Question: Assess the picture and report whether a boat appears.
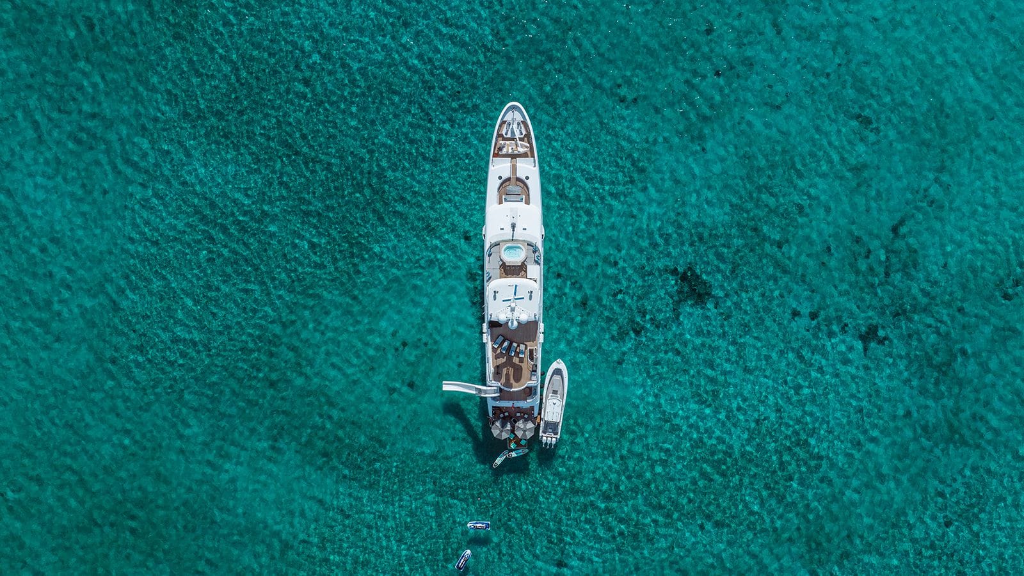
Yes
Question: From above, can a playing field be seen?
No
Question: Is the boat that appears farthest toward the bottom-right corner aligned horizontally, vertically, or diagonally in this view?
vertically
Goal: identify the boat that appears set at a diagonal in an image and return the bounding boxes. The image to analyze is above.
[454,552,469,572]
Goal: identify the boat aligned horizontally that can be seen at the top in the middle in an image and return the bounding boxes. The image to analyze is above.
[496,140,529,153]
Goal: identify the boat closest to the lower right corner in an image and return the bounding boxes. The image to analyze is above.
[538,360,568,451]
